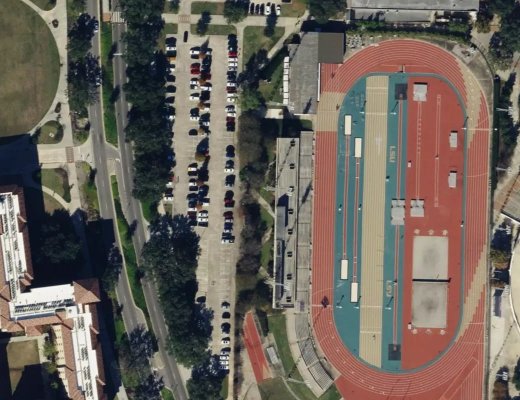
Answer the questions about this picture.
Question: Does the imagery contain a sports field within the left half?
No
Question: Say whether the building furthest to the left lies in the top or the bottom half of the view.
bottom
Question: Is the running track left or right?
right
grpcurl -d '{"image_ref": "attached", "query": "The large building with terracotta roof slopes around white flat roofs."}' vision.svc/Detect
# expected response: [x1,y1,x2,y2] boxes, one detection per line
[0,185,108,400]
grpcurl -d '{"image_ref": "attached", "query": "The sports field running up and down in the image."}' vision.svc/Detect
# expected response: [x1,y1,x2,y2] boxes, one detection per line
[334,64,466,371]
